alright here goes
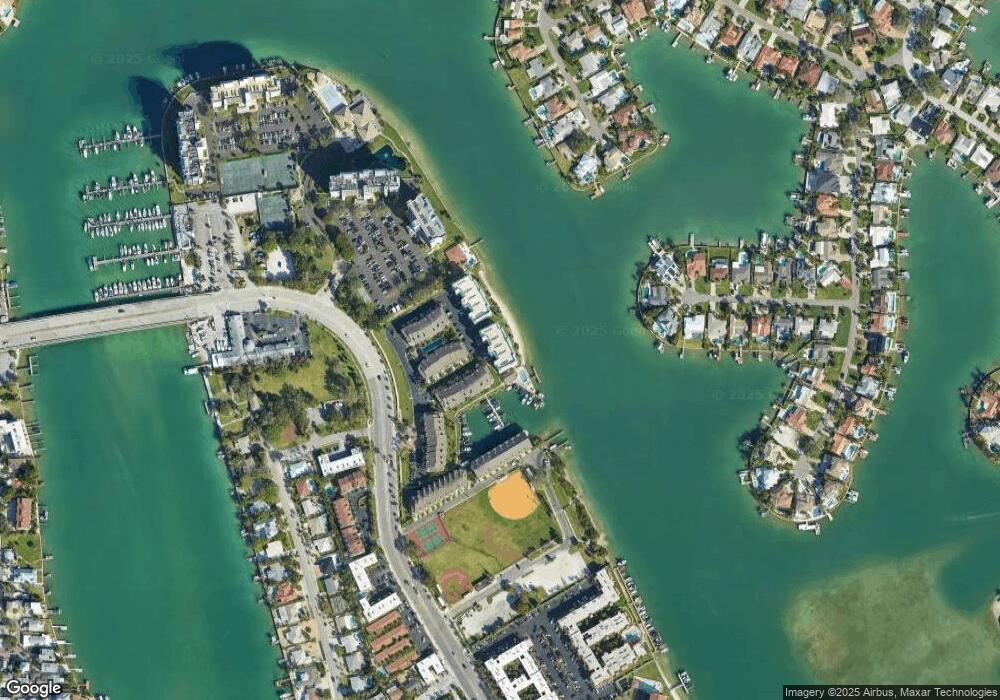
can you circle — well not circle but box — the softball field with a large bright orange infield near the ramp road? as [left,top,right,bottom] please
[488,471,540,520]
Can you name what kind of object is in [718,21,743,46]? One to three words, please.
house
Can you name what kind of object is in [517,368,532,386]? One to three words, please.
swimming pool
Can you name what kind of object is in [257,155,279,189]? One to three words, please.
tennis court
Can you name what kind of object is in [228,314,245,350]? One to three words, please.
shed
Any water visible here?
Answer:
Yes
